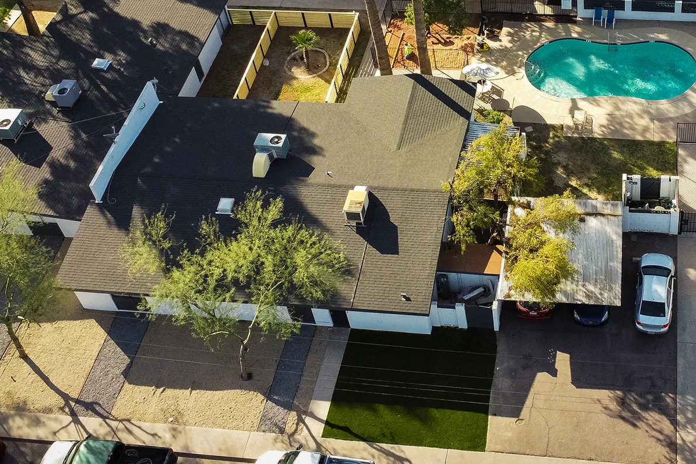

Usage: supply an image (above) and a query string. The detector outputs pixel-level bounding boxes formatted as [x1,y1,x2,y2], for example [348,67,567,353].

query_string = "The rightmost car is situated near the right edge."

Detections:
[632,247,679,334]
